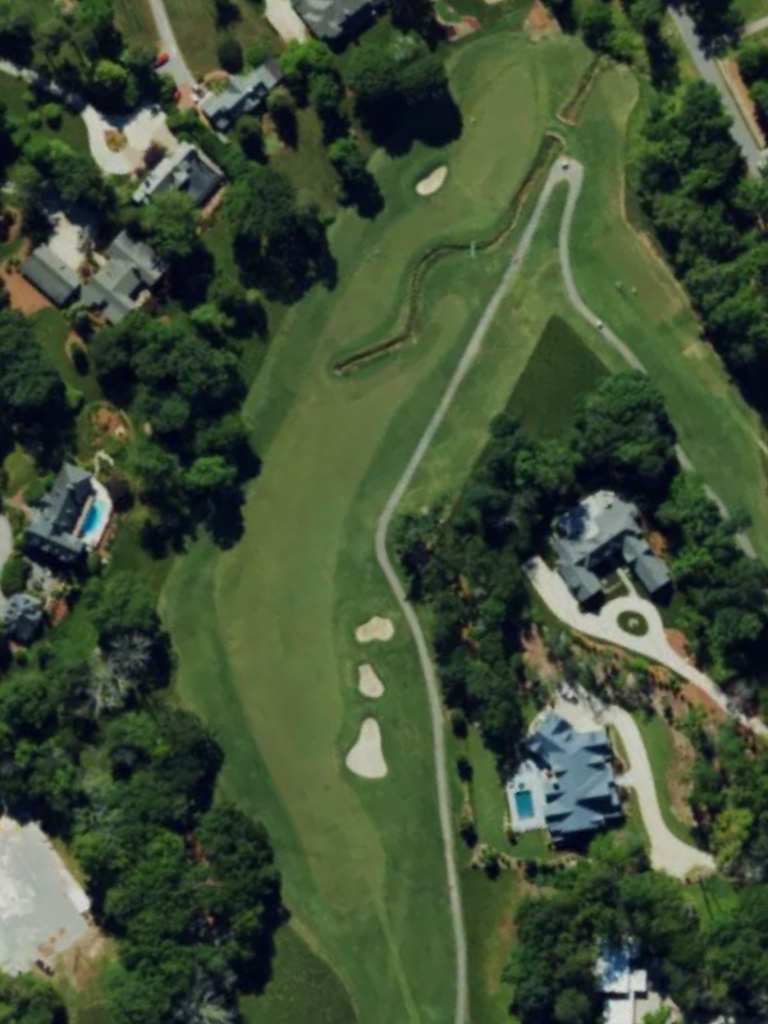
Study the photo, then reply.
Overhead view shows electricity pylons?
No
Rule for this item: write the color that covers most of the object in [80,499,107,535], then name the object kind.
blue swimming pool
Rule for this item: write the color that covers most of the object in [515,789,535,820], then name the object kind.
blue swimming pool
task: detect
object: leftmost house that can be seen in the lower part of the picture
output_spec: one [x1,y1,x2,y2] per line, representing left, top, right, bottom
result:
[0,592,47,638]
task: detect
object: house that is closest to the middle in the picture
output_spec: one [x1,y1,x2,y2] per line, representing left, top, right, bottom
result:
[545,493,676,599]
